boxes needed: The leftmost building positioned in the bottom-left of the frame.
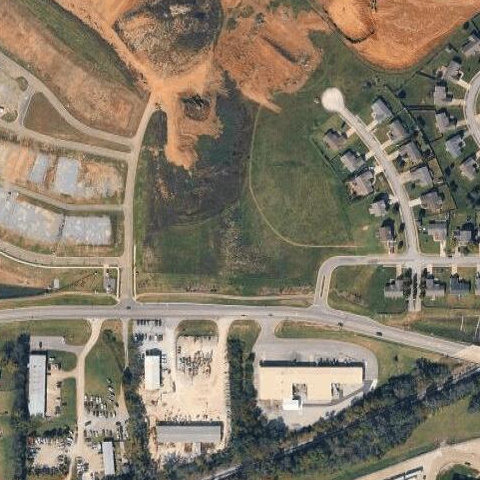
[29,352,46,416]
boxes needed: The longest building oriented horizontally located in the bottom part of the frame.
[260,366,364,400]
